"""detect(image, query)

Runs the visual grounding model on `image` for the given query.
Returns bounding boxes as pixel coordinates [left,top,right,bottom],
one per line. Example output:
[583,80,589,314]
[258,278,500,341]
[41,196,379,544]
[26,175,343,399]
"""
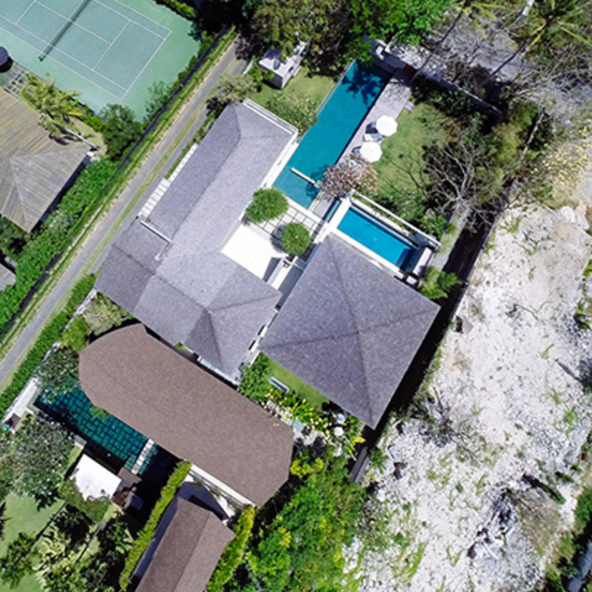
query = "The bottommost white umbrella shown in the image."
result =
[359,142,382,163]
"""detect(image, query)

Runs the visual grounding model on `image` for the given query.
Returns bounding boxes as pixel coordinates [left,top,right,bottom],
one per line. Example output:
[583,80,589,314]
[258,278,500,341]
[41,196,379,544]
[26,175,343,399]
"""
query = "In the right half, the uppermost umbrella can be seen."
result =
[375,117,397,137]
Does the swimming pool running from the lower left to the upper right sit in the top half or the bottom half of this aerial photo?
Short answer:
top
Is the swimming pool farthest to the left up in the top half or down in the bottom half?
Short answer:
bottom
